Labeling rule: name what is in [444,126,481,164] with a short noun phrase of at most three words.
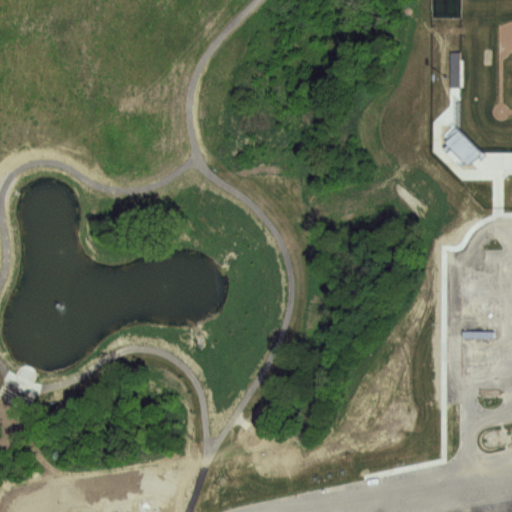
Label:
building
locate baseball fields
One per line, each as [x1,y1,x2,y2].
[462,0,512,151]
